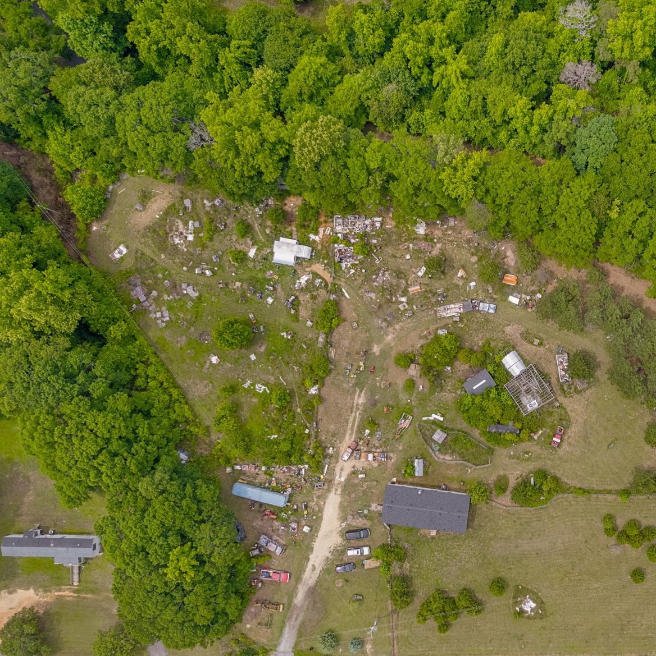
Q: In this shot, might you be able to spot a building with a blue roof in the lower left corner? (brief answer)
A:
No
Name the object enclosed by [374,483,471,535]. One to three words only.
house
